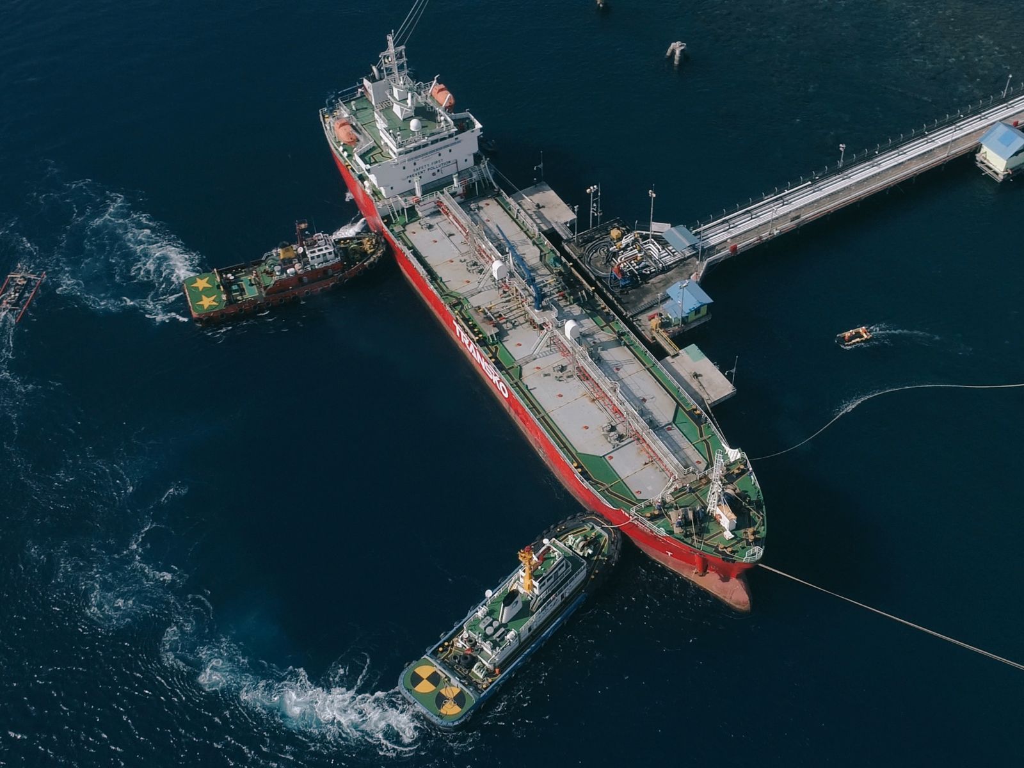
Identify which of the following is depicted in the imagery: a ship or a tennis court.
ship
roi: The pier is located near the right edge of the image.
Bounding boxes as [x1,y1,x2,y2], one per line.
[689,84,1024,268]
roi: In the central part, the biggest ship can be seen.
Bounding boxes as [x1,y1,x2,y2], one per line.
[321,25,763,611]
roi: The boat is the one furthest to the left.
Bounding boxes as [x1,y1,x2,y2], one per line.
[0,268,48,320]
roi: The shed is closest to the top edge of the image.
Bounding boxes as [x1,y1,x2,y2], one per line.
[966,123,1024,192]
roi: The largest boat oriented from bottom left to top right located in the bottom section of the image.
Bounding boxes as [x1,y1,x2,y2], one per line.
[399,511,630,734]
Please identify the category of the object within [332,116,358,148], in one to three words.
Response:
boat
